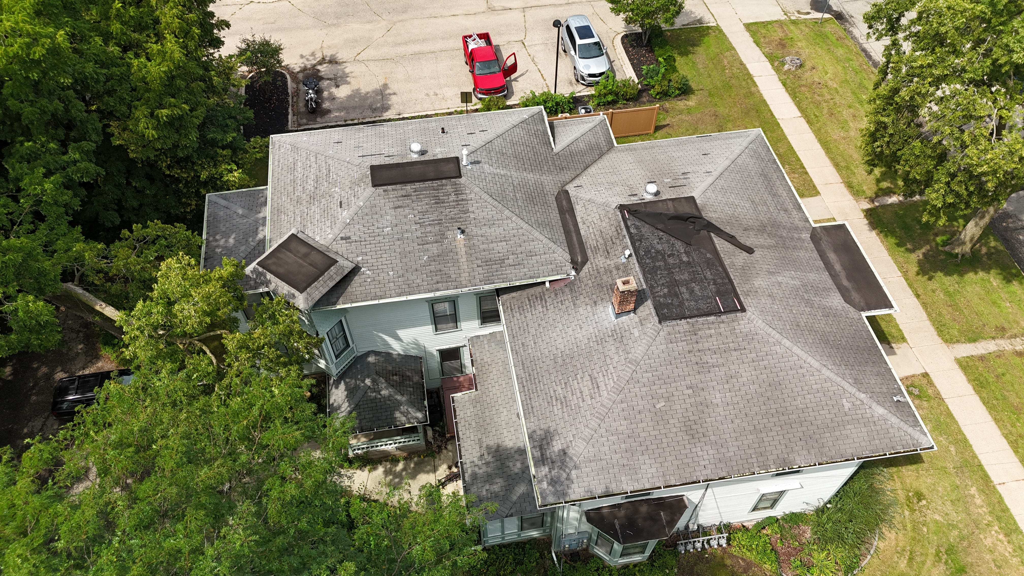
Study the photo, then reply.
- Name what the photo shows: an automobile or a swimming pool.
automobile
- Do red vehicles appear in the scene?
Yes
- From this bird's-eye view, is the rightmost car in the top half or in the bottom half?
top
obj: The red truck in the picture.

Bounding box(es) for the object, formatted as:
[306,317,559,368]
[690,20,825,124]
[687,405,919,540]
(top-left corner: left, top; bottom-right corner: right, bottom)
[463,36,521,103]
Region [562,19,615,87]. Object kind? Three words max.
car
